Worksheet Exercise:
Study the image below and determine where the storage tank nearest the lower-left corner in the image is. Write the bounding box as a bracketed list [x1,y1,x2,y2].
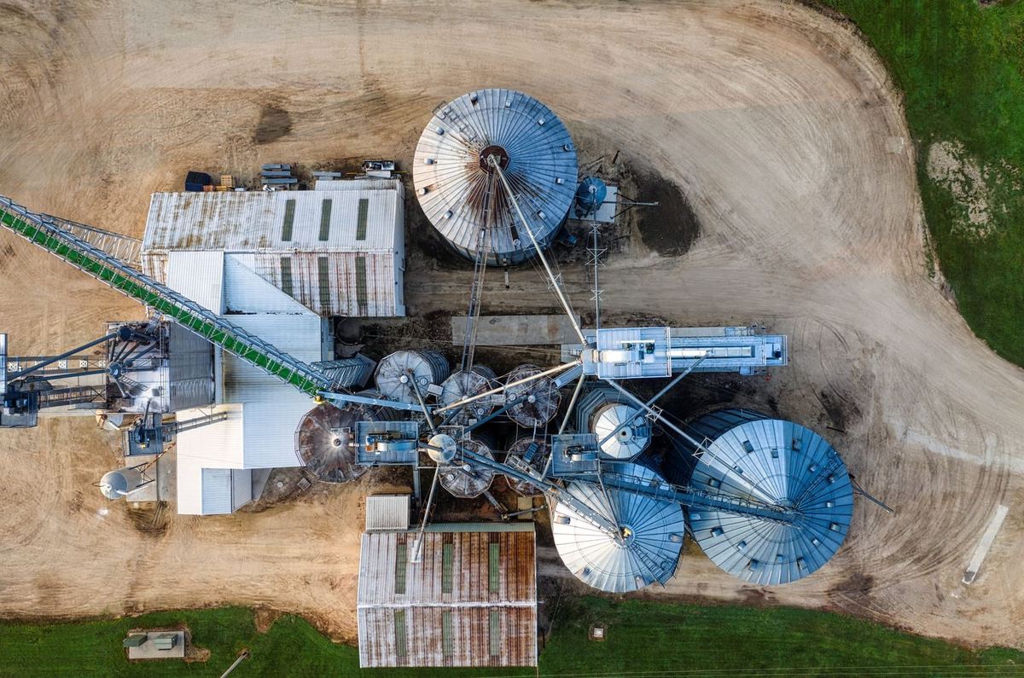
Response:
[93,461,160,498]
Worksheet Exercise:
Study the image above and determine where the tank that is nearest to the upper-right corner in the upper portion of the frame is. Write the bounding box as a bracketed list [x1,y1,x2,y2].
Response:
[572,178,606,217]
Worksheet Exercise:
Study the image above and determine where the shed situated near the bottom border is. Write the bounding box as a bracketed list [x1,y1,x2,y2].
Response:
[356,520,544,668]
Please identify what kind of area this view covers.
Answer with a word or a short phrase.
industrial area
